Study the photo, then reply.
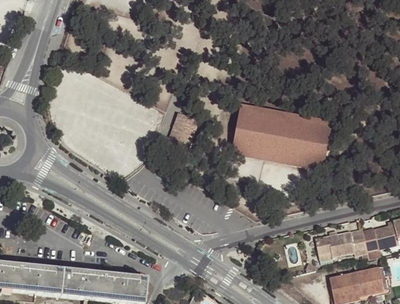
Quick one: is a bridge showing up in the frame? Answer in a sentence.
No, the picture doesn't show any bridge.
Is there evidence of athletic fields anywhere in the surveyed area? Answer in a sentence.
Yes, an athletic field appears in the view.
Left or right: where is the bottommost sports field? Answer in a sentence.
The bottommost sports field sits on the left side.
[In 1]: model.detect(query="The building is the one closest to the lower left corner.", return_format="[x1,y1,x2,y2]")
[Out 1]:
[0,260,149,304]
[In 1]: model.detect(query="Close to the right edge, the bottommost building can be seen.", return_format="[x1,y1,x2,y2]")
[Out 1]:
[330,266,392,304]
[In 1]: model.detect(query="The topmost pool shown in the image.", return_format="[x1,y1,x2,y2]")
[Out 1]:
[286,242,302,268]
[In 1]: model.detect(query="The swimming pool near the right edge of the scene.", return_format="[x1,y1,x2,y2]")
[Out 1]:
[386,258,400,286]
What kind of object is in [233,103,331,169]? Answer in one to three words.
building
